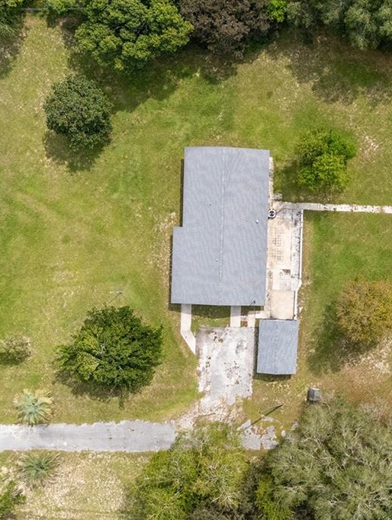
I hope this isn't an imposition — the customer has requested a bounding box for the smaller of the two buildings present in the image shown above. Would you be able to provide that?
[256,320,298,374]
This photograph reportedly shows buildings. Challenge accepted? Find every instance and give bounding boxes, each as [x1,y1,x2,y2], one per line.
[169,147,269,307]
[256,320,298,374]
